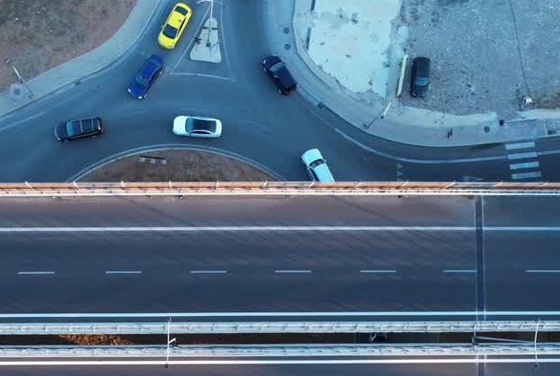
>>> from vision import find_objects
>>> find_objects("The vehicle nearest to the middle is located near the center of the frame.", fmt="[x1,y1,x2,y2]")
[304,148,340,186]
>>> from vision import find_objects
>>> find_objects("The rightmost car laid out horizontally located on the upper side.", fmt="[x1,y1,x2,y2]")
[172,114,221,139]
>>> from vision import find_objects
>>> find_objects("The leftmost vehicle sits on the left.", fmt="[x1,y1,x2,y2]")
[55,115,105,143]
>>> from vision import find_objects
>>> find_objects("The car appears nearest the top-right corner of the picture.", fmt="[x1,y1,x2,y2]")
[408,56,431,101]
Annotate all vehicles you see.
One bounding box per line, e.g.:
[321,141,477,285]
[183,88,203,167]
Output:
[408,56,431,101]
[160,1,192,51]
[172,114,221,139]
[260,54,299,100]
[55,115,105,143]
[304,148,340,186]
[128,53,164,102]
